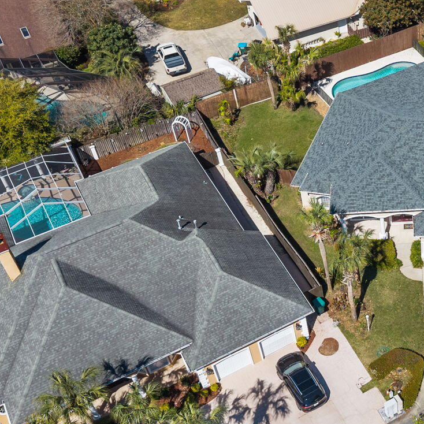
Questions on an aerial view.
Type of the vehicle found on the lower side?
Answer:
automobile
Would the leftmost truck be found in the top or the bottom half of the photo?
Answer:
top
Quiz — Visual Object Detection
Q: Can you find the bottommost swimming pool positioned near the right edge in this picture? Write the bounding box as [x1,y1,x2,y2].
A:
[328,59,419,102]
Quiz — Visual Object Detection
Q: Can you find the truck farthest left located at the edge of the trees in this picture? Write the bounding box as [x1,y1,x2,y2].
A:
[155,40,188,81]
